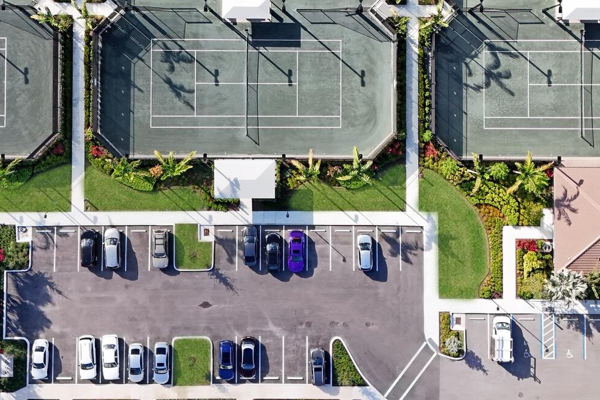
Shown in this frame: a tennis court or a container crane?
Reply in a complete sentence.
Looking from above, you can make out a tennis court.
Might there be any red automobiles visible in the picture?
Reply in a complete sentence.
No, there isn't any red automobile down there.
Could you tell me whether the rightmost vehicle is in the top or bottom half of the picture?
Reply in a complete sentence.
The bottom half of the photo is where the rightmost vehicle is.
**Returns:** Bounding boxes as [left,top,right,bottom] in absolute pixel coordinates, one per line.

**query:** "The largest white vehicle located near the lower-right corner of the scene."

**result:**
[495,315,515,366]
